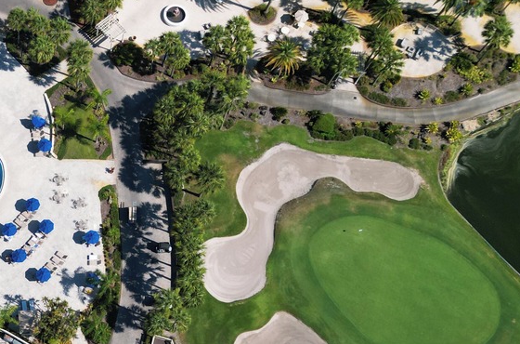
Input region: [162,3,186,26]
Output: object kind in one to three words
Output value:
fountain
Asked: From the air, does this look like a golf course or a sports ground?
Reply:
golf course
